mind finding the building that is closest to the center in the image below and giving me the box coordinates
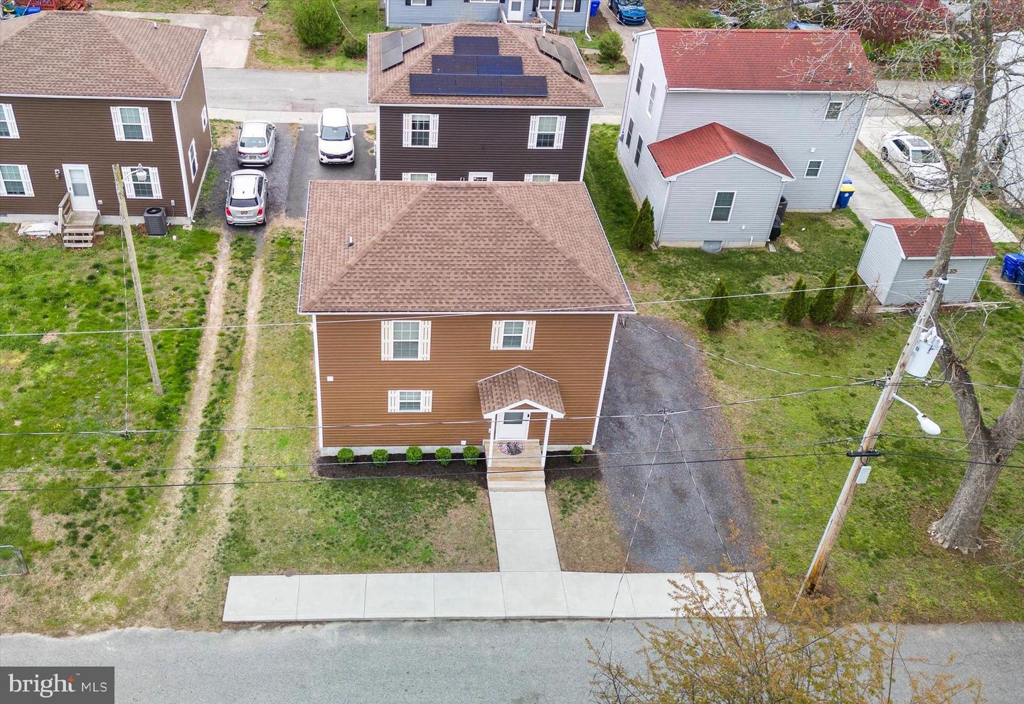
[298,178,633,491]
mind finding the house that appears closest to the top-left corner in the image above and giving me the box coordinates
[0,9,211,226]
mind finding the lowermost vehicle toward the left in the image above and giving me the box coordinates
[226,164,274,218]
